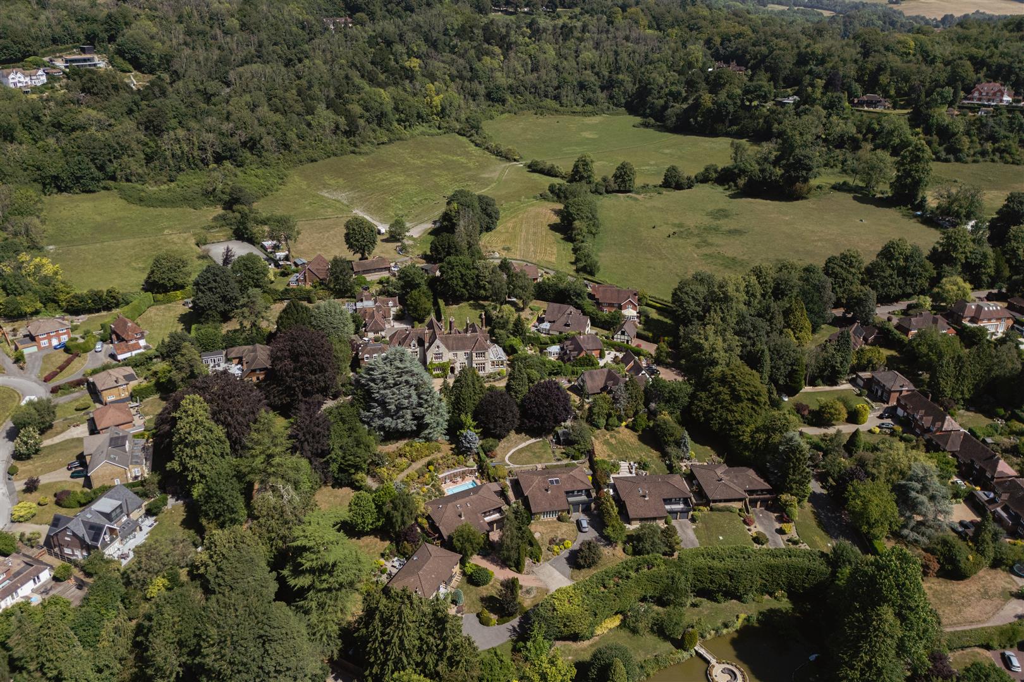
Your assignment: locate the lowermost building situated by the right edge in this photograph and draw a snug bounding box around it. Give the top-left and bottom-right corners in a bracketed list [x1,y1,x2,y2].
[966,479,1024,532]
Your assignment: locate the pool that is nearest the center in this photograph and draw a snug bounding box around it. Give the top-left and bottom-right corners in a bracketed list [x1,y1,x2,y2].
[445,480,472,497]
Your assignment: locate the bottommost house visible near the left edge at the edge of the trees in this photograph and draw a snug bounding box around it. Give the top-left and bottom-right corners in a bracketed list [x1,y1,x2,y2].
[0,543,49,606]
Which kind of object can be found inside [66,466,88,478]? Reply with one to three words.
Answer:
vehicle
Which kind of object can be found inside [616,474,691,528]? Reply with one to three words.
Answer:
house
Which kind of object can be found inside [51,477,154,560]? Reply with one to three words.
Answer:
house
